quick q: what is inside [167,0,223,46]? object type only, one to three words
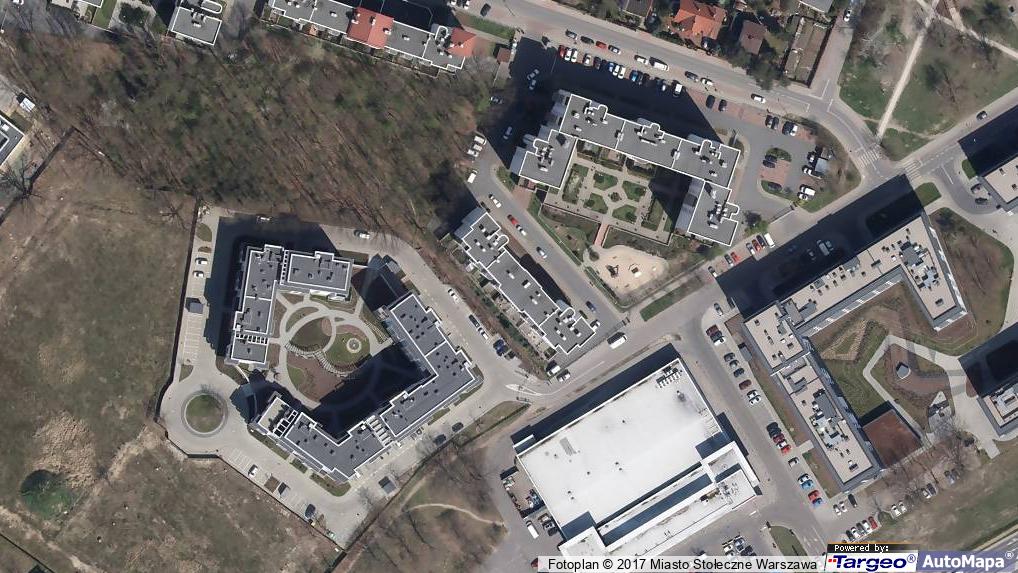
building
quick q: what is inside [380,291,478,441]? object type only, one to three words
building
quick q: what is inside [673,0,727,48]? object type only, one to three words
house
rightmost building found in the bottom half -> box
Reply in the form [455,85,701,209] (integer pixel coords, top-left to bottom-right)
[976,375,1018,435]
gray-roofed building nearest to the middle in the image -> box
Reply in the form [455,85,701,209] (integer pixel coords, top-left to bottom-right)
[454,211,595,353]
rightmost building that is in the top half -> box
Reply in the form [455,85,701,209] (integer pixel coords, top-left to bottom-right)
[978,156,1018,213]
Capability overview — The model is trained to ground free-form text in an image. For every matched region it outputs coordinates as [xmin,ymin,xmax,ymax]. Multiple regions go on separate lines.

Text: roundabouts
[181,389,229,437]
